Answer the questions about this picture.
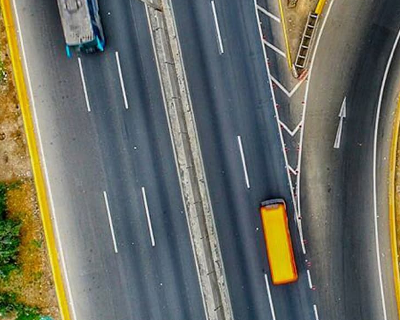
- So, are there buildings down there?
No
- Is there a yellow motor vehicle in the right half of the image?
Yes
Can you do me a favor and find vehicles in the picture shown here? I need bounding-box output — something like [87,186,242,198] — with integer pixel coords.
[260,196,297,283]
[57,0,107,51]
